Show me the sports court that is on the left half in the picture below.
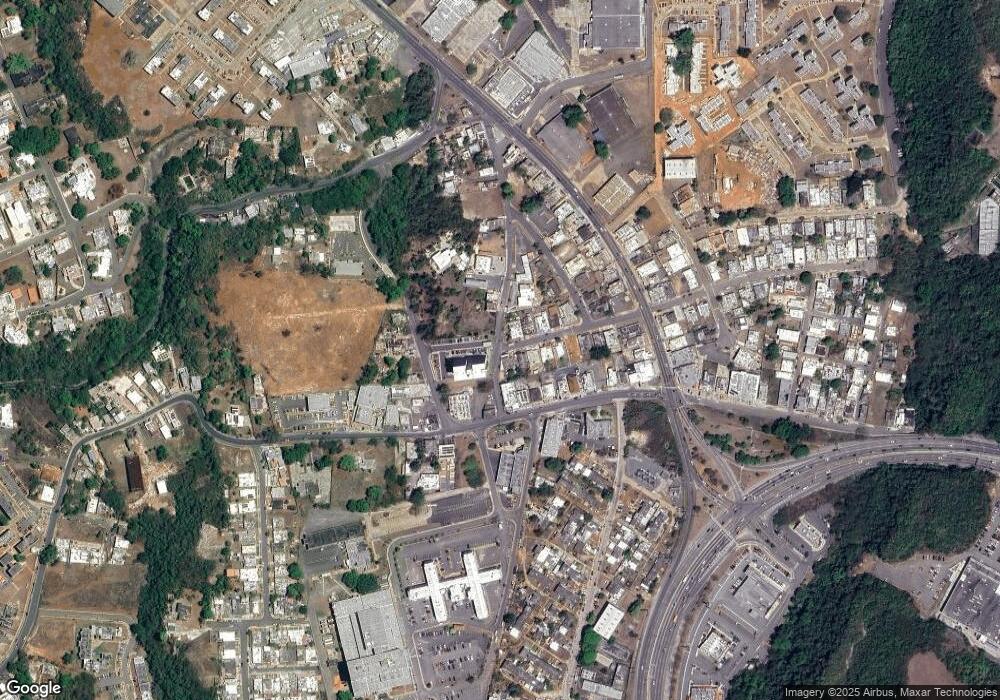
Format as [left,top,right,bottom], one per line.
[329,216,355,231]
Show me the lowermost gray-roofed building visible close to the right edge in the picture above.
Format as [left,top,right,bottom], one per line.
[934,562,1000,639]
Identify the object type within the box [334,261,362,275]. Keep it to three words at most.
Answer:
building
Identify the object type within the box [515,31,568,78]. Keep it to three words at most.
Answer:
building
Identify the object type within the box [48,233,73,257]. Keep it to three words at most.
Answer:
house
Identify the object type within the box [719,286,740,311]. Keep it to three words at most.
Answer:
house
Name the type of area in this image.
residential area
